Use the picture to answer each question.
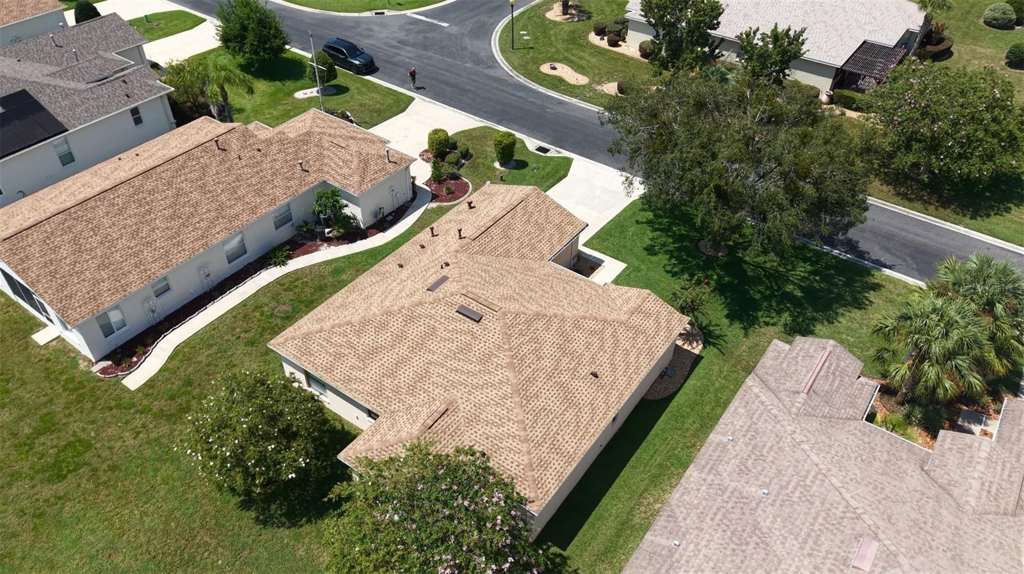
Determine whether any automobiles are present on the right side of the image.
No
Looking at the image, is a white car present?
No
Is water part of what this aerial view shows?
No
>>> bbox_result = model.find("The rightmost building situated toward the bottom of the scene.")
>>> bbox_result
[622,336,1024,574]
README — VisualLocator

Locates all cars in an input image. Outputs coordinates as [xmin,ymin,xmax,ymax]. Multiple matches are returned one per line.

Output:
[323,37,378,72]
